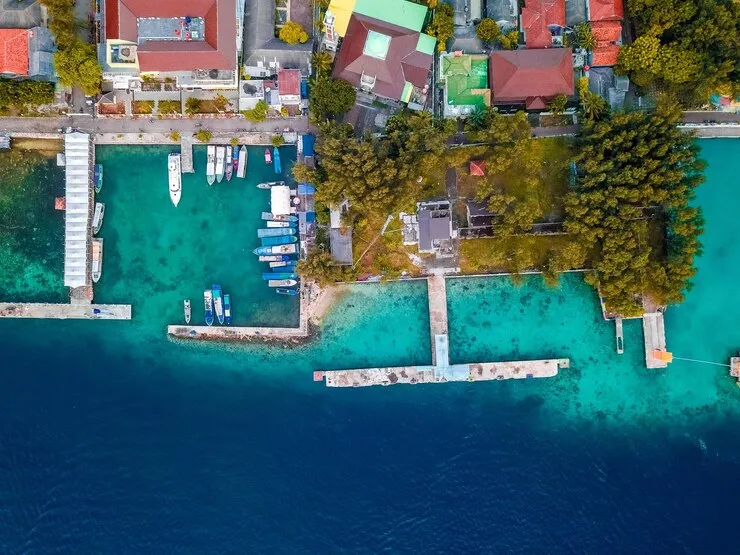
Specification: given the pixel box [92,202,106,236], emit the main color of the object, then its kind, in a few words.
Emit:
white boat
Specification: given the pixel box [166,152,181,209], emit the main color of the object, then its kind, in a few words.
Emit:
white boat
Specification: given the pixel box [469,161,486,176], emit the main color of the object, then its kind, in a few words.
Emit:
red gazebo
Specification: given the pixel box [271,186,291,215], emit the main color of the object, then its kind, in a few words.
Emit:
white vessel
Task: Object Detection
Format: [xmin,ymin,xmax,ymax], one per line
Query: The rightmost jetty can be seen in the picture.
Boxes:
[641,313,668,369]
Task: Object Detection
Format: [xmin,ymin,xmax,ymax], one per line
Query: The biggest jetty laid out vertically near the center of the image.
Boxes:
[428,277,449,367]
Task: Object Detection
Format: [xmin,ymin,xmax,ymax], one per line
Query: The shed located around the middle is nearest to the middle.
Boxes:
[330,229,353,265]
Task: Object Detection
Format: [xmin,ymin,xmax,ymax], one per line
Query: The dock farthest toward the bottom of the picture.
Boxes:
[325,357,559,389]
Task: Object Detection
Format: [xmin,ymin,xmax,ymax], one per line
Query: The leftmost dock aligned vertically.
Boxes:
[181,143,197,173]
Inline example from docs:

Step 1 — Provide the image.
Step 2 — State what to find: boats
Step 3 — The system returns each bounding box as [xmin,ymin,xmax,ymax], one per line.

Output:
[262,272,297,280]
[276,288,298,295]
[223,294,232,324]
[257,181,286,188]
[261,236,298,246]
[262,212,298,222]
[259,255,289,262]
[257,228,297,237]
[225,146,233,182]
[92,202,106,236]
[272,266,298,273]
[212,283,225,325]
[203,289,215,325]
[236,145,248,179]
[265,148,272,165]
[92,238,103,283]
[233,145,239,173]
[251,242,298,254]
[267,220,298,228]
[215,146,225,184]
[183,298,191,324]
[205,145,215,186]
[269,260,299,267]
[94,164,103,194]
[269,280,297,288]
[166,152,181,209]
[275,147,281,176]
